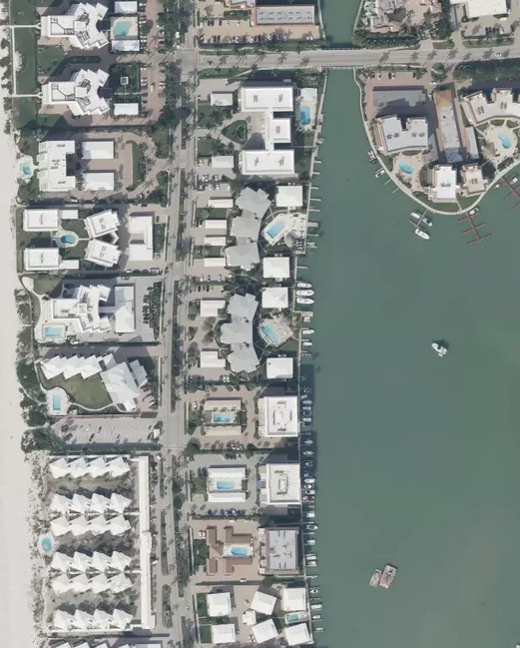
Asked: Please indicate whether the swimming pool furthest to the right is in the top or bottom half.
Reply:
top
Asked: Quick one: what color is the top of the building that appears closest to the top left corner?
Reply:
white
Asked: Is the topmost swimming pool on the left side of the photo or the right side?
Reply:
left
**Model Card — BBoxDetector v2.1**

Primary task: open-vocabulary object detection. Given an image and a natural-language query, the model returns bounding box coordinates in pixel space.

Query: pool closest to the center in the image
[260,315,294,347]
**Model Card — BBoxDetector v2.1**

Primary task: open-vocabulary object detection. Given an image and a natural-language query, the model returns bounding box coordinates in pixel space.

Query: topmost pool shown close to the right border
[487,120,520,157]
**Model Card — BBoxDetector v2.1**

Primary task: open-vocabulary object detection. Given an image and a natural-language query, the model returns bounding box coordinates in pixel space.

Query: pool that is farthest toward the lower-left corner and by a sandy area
[37,533,55,554]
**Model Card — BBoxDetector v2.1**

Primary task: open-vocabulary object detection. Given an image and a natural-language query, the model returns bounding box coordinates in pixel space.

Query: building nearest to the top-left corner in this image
[45,2,109,53]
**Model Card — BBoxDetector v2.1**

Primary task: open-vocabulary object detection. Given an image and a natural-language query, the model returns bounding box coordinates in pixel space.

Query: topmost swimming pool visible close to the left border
[15,152,34,183]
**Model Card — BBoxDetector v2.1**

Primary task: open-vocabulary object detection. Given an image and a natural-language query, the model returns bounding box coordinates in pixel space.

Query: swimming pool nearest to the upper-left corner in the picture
[111,14,138,36]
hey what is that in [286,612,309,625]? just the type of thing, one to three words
swimming pool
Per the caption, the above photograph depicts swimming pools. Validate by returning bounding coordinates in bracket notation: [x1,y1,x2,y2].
[260,315,294,347]
[54,230,78,250]
[208,478,245,492]
[43,389,70,416]
[261,213,307,253]
[299,97,316,131]
[34,293,68,342]
[15,152,34,183]
[394,154,423,195]
[111,14,138,36]
[224,545,253,557]
[487,120,520,157]
[37,533,55,554]
[286,612,309,625]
